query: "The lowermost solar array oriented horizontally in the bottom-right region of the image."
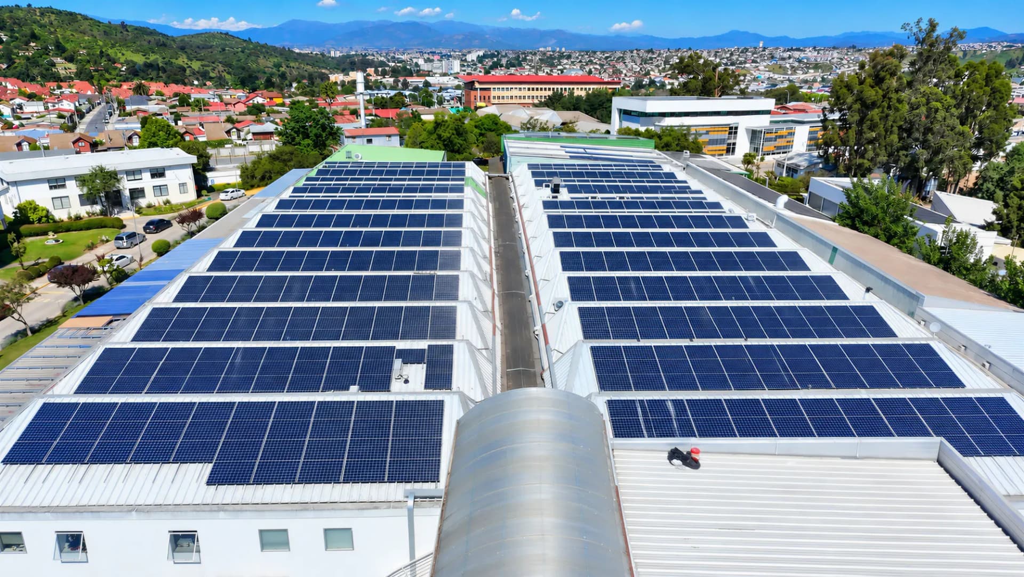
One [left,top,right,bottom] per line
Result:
[607,397,1024,454]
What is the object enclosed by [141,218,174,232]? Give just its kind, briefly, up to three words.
car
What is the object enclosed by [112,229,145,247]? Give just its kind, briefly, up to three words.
car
